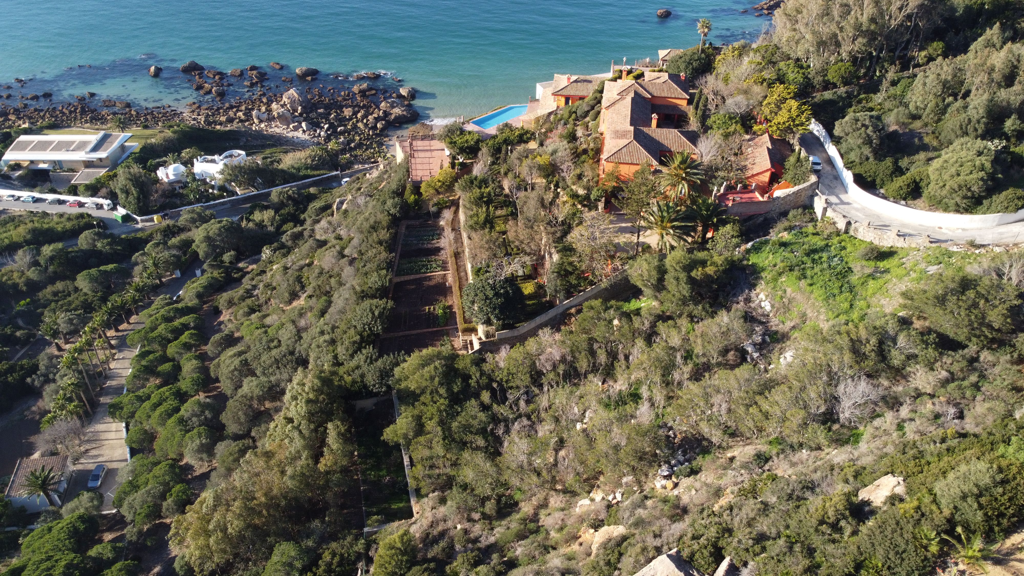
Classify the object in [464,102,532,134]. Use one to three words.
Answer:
swimming pool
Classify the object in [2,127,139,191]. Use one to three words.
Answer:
house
